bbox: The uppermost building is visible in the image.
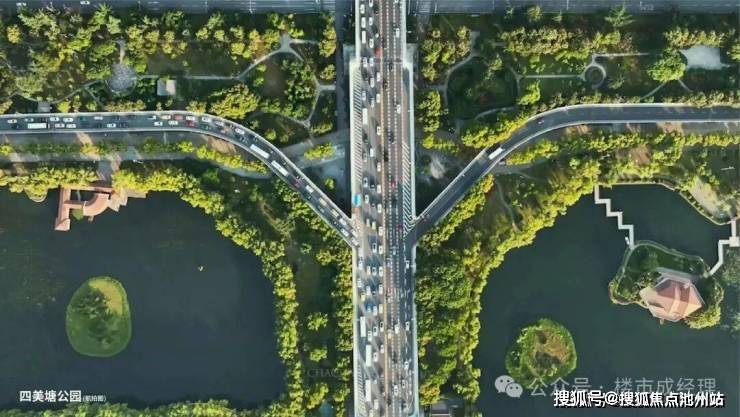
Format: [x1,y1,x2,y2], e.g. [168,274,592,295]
[156,77,178,97]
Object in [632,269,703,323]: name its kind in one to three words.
building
